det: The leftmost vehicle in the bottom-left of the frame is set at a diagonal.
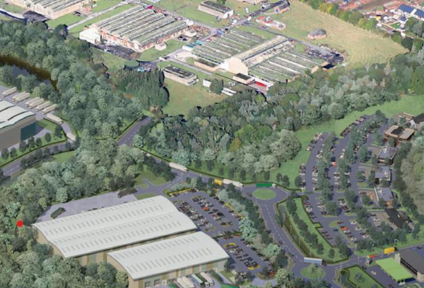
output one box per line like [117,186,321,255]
[50,204,65,217]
